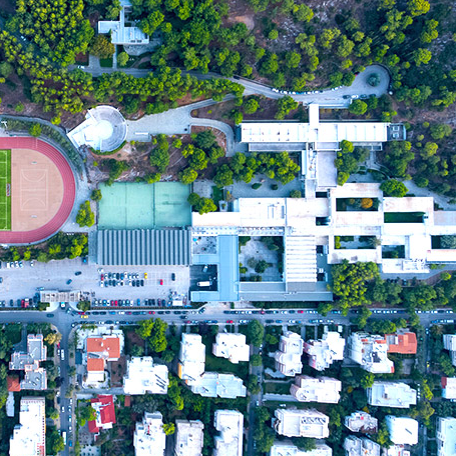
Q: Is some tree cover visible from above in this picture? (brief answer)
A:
Yes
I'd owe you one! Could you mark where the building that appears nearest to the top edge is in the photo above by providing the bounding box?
[98,0,149,46]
